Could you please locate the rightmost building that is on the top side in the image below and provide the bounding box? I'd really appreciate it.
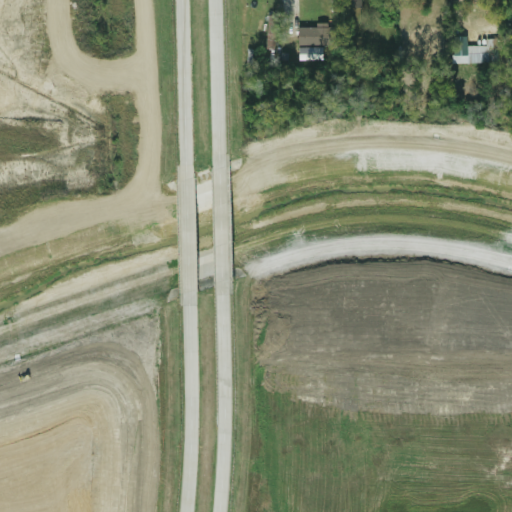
[453,36,498,64]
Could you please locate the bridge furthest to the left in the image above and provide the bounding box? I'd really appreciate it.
[178,166,199,306]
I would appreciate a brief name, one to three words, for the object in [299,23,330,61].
house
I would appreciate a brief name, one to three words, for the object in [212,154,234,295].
bridge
